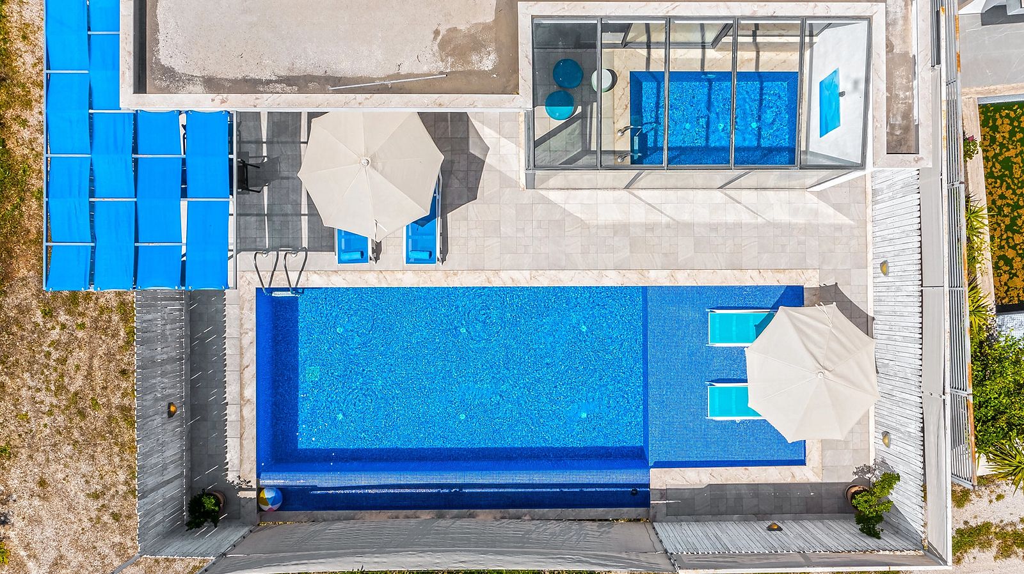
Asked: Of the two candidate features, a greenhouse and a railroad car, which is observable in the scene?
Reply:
greenhouse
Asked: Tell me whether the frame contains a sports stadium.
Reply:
No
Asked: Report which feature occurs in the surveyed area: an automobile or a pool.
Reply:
pool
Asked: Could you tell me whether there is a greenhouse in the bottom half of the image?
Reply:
No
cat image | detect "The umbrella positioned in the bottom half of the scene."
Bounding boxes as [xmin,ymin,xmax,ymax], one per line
[745,302,880,442]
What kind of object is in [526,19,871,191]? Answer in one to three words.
greenhouse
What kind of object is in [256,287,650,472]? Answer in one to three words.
swimming pool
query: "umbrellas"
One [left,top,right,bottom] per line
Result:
[745,302,880,442]
[297,115,445,242]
